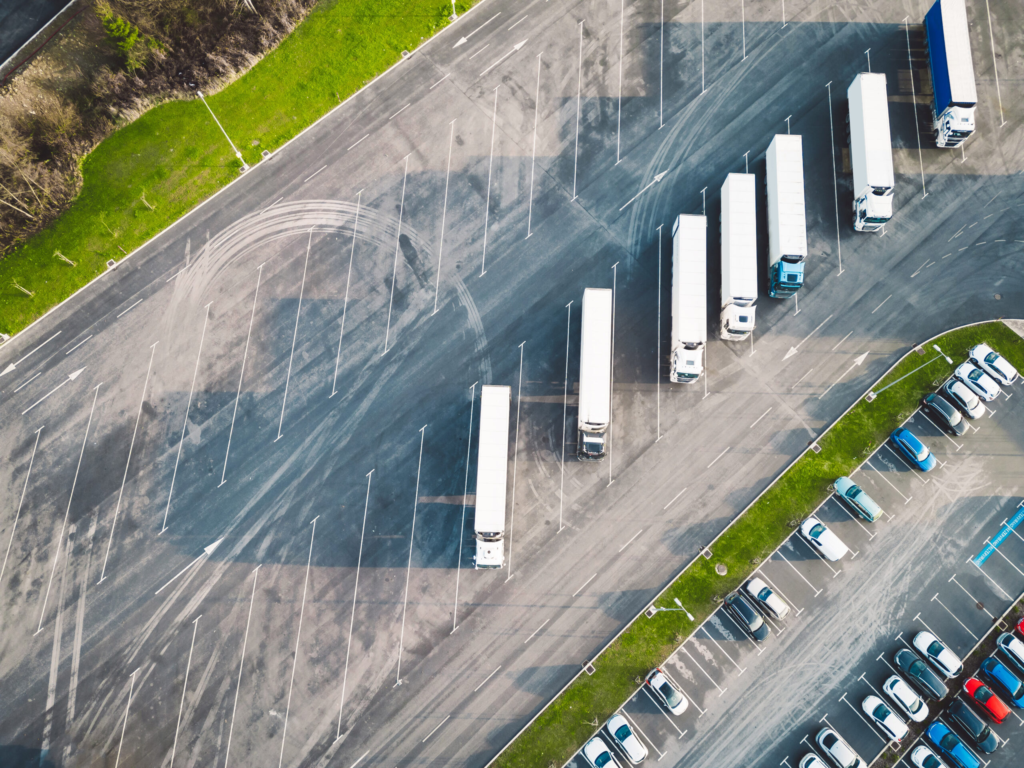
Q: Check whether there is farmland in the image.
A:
No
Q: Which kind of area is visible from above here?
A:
parking lot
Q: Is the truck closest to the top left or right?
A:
right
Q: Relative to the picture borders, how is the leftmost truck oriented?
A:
vertically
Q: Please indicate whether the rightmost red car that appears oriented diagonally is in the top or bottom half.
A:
bottom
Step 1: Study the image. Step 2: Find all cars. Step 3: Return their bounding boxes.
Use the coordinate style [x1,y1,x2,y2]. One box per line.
[722,592,769,641]
[833,477,882,523]
[584,738,624,768]
[606,714,650,765]
[963,679,1012,725]
[954,364,1000,403]
[881,675,927,722]
[929,722,983,768]
[888,428,935,472]
[796,752,826,768]
[913,632,964,679]
[920,392,967,435]
[977,658,1024,708]
[969,346,1018,387]
[941,381,984,419]
[645,670,687,715]
[861,695,910,744]
[1013,621,1024,644]
[993,632,1024,678]
[944,698,998,753]
[746,577,791,622]
[911,747,947,768]
[894,649,949,702]
[814,726,864,768]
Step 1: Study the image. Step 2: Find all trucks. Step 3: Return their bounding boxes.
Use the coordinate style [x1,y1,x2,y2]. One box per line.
[670,213,707,384]
[846,72,894,230]
[764,134,808,298]
[471,383,511,570]
[923,0,978,148]
[719,173,757,340]
[575,286,612,464]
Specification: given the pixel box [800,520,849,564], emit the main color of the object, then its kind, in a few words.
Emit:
white vehicle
